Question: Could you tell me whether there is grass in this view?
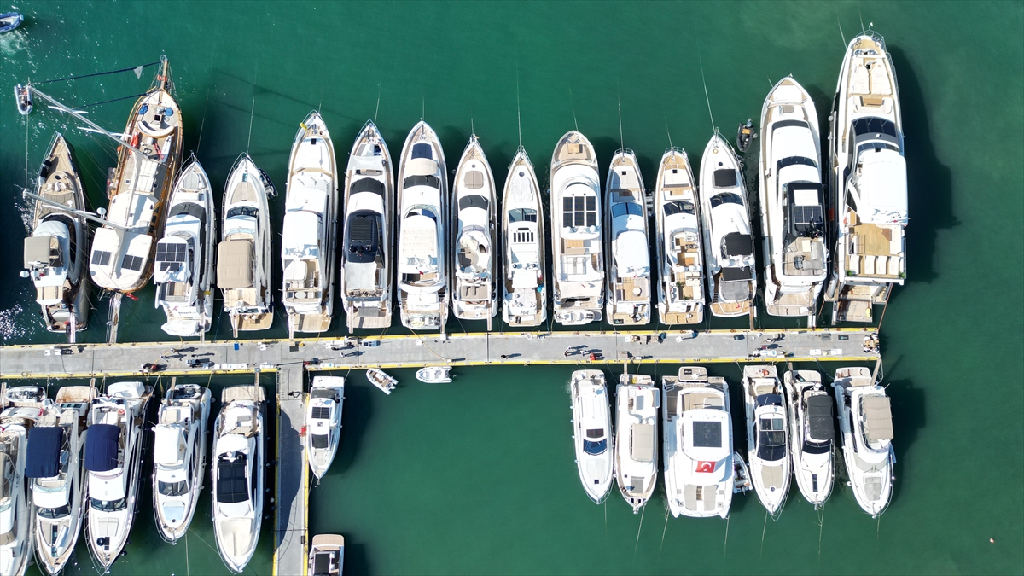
No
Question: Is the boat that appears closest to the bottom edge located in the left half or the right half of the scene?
left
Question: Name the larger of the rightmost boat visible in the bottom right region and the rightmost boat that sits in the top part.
the rightmost boat that sits in the top part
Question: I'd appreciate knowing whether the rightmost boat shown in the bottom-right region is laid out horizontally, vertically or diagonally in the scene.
vertically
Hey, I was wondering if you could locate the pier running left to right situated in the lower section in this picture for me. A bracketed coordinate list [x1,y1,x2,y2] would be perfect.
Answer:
[0,327,879,378]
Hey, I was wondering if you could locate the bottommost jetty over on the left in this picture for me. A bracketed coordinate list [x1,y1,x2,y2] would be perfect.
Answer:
[273,358,311,576]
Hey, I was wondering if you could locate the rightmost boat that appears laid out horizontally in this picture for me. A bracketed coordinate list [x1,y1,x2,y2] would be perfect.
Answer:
[554,310,595,324]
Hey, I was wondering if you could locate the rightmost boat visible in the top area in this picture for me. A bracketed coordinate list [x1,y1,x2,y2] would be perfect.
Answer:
[819,7,922,329]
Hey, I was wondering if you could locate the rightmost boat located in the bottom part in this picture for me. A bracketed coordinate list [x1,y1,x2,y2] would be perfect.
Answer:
[818,362,898,533]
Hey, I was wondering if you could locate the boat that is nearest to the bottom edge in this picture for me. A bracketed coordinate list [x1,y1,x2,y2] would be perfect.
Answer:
[308,535,348,576]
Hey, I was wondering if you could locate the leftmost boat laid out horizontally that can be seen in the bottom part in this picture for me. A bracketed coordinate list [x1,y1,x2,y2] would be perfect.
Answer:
[6,385,47,402]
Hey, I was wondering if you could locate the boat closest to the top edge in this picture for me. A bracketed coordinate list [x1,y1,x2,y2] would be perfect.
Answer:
[0,8,26,32]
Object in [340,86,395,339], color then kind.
white boat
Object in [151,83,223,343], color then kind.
white boat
